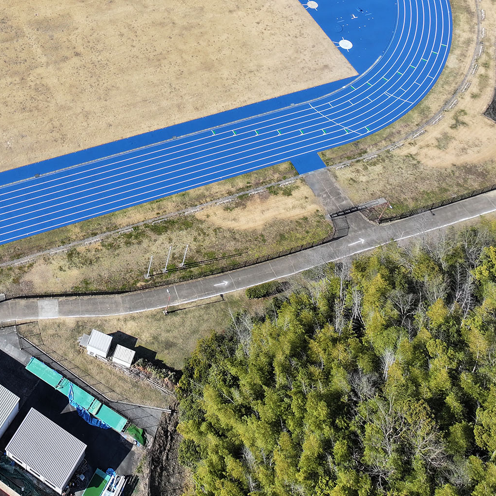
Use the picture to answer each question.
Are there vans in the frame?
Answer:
No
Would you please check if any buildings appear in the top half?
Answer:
No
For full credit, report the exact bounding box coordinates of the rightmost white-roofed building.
[111,342,136,370]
